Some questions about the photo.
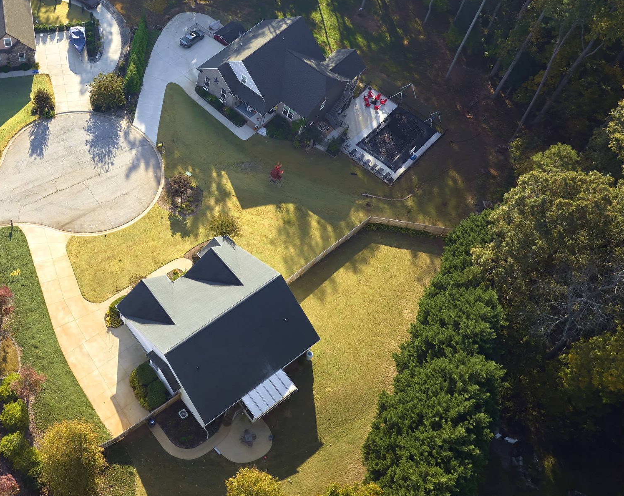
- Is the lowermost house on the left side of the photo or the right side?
left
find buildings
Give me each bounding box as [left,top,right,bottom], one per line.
[196,15,368,132]
[113,234,319,449]
[0,0,35,65]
